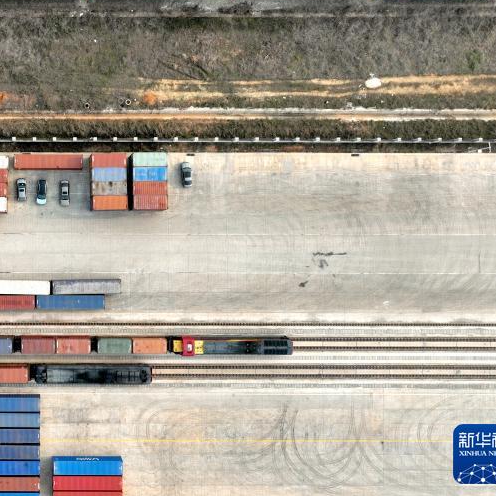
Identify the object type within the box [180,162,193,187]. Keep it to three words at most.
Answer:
vehicle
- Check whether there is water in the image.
No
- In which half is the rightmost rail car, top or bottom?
bottom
